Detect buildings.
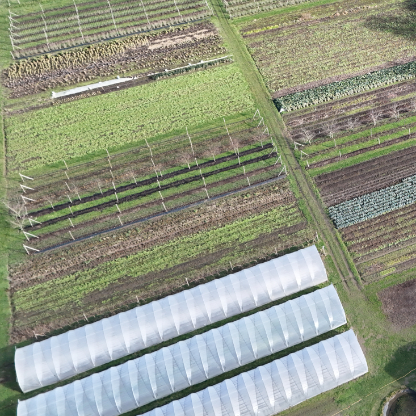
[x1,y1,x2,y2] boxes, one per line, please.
[10,244,327,392]
[120,326,369,416]
[12,283,347,416]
